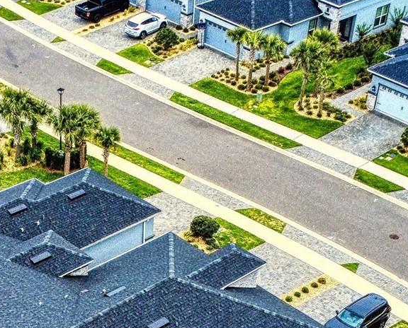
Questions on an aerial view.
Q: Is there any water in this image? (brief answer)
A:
No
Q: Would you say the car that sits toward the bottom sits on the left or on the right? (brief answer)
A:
right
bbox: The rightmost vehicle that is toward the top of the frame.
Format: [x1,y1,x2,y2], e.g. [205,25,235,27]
[124,10,168,36]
